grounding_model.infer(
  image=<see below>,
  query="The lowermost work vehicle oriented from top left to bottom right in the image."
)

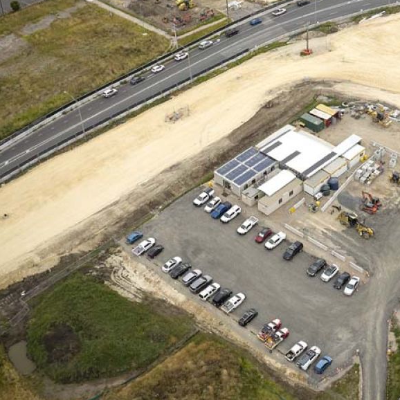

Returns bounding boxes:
[339,211,376,239]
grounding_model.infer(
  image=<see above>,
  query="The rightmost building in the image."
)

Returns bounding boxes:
[341,144,365,169]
